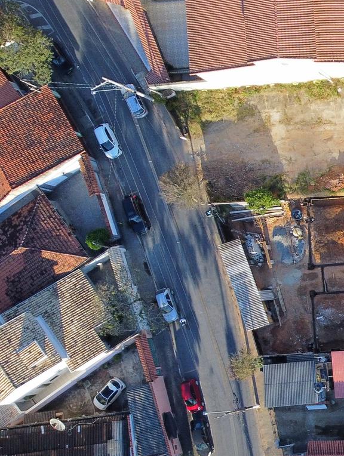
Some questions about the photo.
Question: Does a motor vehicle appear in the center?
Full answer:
Yes, in the center there is a motor vehicle.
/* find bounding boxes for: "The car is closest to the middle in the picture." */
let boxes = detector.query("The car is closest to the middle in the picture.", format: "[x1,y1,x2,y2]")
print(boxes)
[123,193,156,236]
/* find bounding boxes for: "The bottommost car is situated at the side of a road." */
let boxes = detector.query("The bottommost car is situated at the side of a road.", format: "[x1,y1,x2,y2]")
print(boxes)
[192,414,219,456]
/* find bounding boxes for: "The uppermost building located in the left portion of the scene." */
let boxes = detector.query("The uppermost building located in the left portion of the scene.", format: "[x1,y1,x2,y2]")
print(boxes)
[0,61,102,211]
